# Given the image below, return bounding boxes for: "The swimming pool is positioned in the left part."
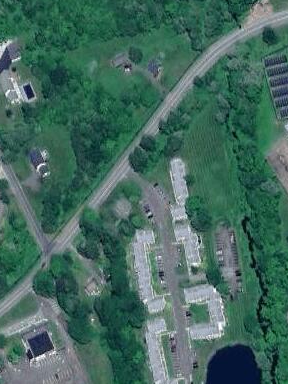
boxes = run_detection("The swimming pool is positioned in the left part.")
[22,81,35,101]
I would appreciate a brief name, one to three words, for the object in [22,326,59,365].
building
